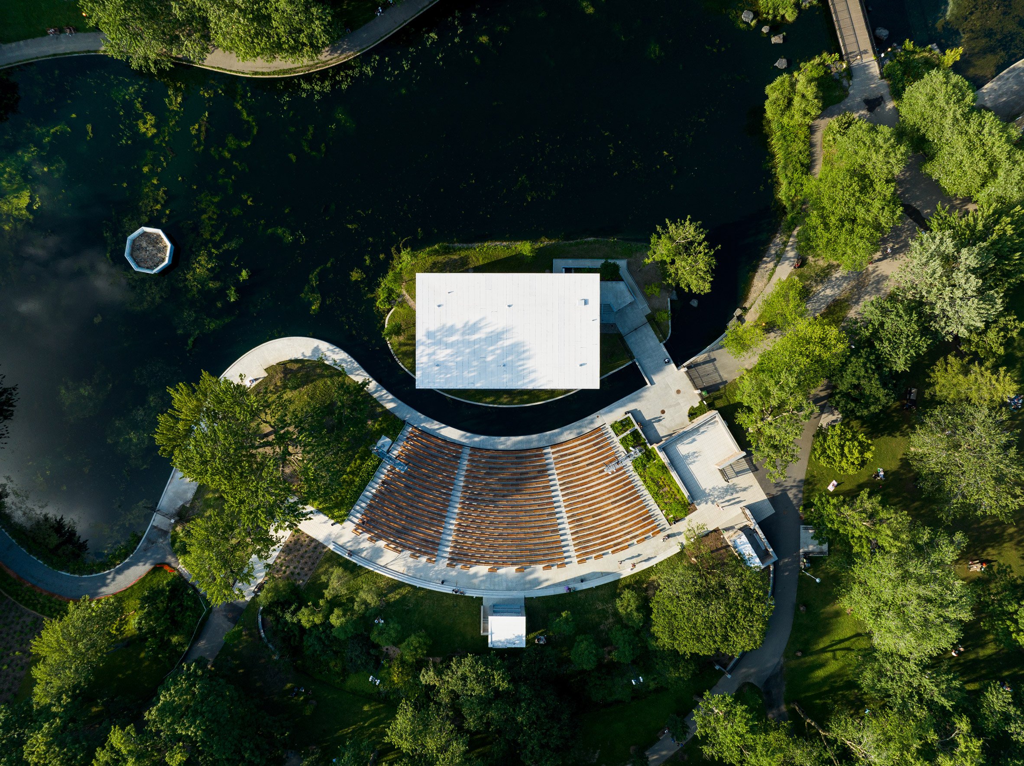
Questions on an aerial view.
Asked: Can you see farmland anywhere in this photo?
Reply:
No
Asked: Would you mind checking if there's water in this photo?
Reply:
Yes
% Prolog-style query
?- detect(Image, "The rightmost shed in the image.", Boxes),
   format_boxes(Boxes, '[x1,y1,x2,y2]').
[723,504,778,568]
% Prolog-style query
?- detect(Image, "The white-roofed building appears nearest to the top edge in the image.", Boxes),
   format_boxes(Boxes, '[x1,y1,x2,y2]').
[416,273,600,389]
